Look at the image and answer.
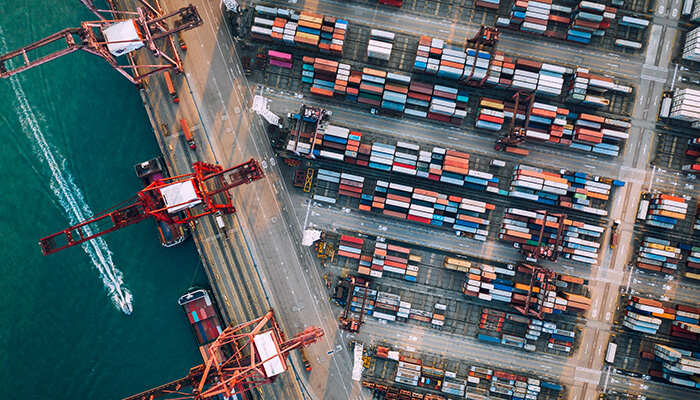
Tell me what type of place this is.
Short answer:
port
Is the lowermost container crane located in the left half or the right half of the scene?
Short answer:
left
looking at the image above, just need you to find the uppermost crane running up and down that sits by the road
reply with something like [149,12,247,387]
[461,28,500,87]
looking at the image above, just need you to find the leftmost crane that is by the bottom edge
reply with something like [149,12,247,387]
[109,306,327,400]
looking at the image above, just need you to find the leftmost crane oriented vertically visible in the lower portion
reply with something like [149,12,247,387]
[340,274,371,331]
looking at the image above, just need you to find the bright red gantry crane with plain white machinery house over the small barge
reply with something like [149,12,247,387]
[36,155,265,259]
